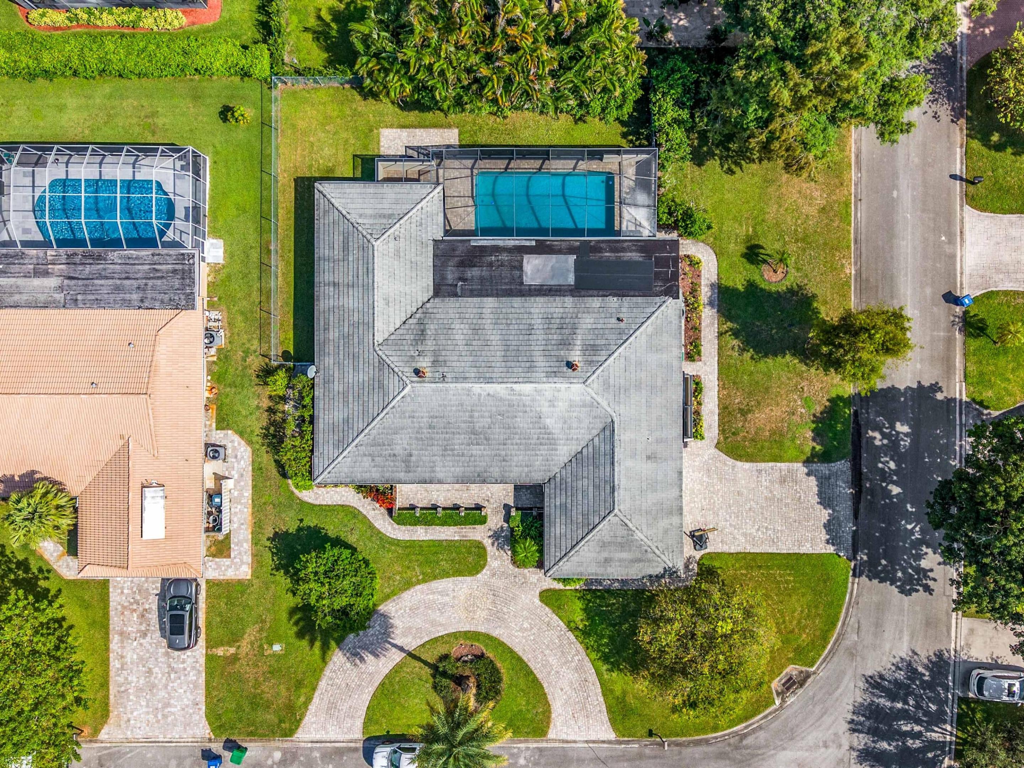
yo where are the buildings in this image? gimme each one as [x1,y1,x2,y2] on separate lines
[0,248,206,579]
[312,180,685,580]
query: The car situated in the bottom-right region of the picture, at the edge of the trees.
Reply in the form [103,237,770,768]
[969,664,1024,702]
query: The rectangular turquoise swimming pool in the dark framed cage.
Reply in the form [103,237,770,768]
[471,167,618,236]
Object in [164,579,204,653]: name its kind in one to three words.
car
